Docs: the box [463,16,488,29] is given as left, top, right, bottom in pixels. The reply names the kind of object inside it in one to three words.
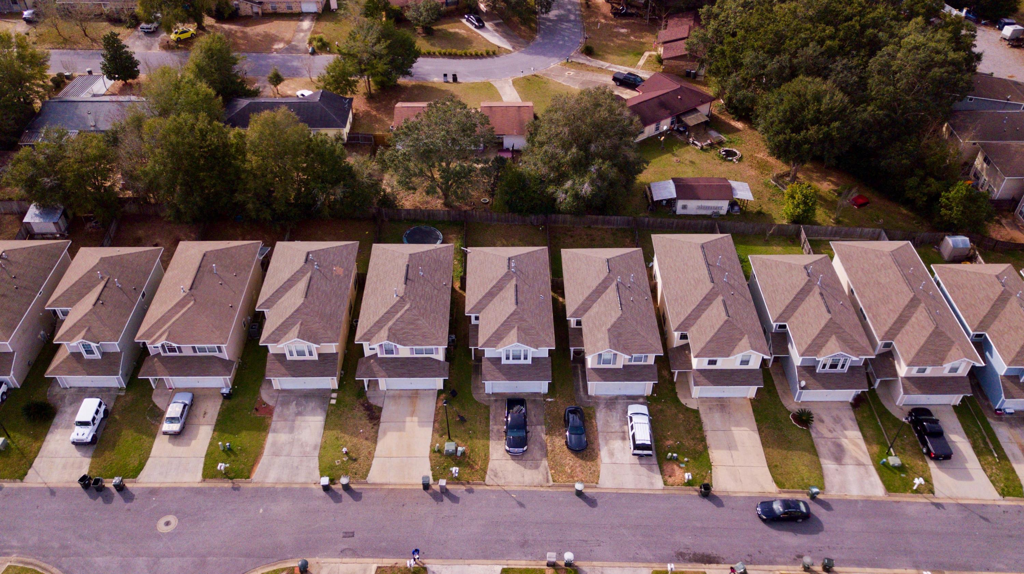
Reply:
vehicle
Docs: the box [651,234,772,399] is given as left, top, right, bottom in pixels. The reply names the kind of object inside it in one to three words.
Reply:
house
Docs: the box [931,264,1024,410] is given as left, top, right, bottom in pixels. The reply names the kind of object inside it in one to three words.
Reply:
house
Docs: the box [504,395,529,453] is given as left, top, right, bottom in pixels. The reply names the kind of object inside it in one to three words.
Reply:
truck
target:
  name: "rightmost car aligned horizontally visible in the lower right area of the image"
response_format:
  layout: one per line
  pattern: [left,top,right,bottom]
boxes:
[754,494,815,522]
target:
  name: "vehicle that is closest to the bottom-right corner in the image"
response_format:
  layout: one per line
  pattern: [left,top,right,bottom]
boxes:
[910,402,960,459]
